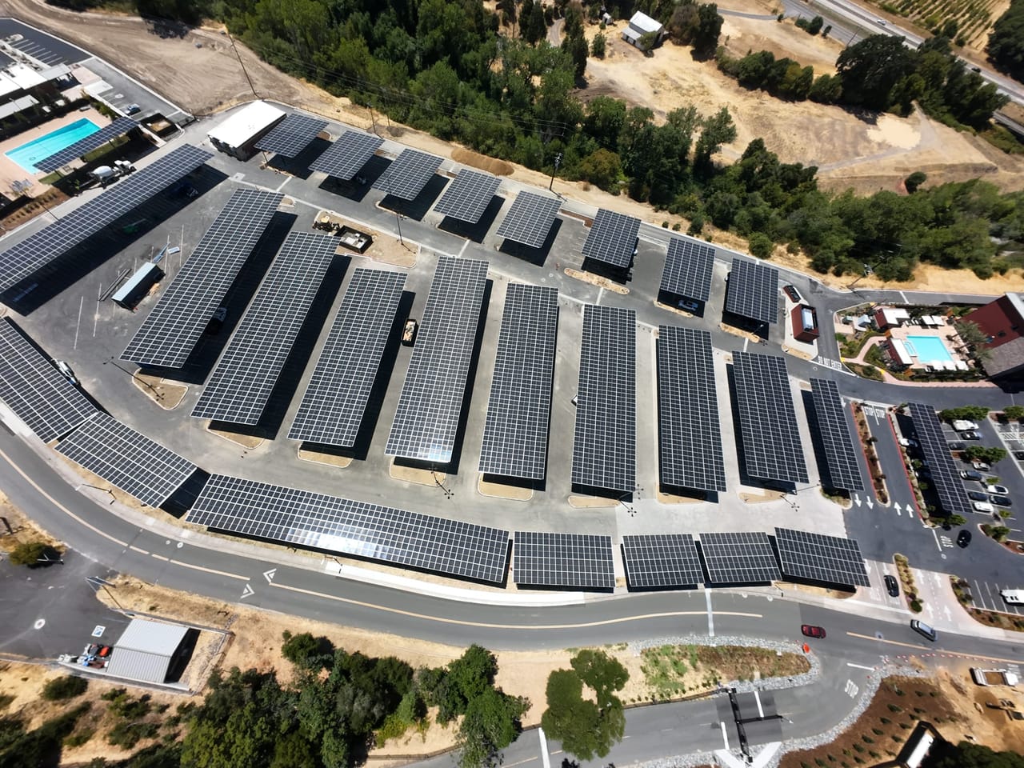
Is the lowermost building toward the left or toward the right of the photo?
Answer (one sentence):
The lowermost building is on the right side of the image.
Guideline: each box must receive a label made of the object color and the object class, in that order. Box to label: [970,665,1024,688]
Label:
white truck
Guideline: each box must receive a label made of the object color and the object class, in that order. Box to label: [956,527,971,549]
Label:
black car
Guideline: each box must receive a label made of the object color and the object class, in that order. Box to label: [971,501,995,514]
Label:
white vehicle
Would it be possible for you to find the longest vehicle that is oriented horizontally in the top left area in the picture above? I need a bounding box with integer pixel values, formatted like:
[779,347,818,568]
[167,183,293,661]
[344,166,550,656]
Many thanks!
[80,158,136,182]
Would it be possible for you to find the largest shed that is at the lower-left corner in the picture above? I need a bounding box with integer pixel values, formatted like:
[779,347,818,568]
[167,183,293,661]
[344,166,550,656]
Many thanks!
[106,618,201,682]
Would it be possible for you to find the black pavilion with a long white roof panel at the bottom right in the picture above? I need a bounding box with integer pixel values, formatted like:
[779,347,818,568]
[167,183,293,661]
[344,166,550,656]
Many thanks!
[867,724,938,768]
